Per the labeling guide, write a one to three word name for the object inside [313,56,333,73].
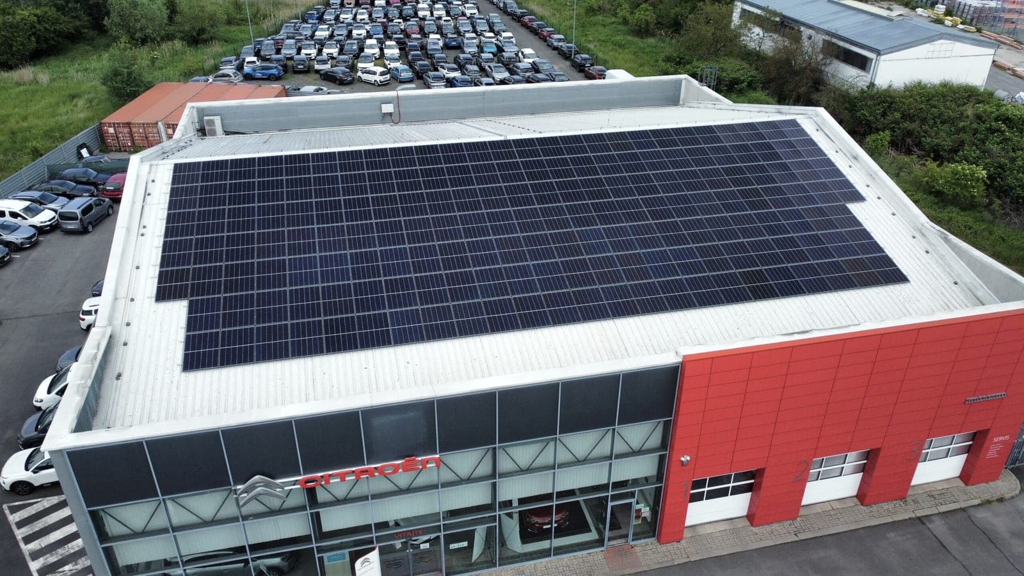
car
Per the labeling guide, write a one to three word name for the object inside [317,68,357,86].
car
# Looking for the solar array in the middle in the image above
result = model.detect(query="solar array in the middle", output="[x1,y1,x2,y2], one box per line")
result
[150,118,908,371]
